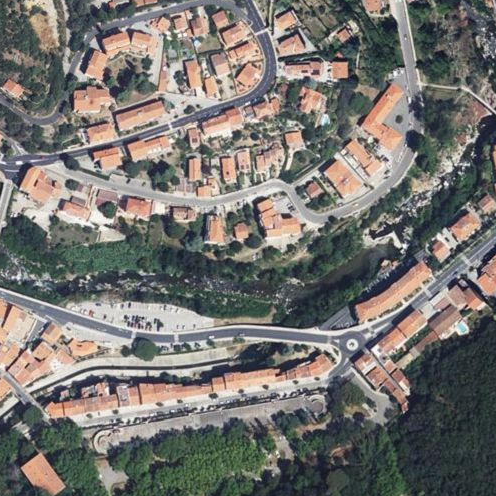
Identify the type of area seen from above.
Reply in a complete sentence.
It's a residential area.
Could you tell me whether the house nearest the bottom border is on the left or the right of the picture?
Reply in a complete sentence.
The house nearest the bottom border is on the left side of the image.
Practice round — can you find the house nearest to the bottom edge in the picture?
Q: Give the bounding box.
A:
[21,454,66,496]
